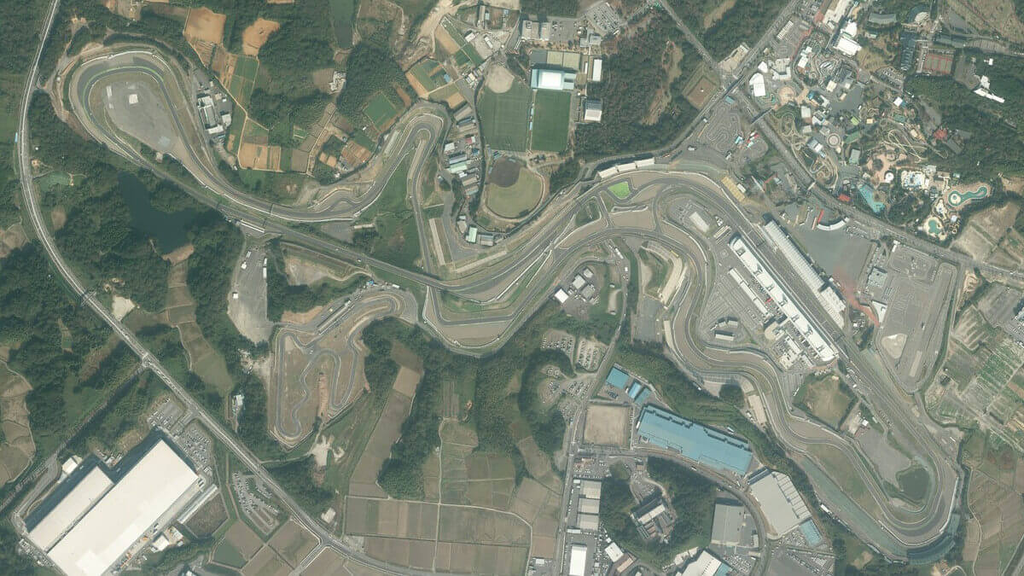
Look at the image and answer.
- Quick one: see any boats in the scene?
No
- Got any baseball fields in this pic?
Yes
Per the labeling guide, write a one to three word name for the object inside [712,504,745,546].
building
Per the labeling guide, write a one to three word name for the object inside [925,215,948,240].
swimming pool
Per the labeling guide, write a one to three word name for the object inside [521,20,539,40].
building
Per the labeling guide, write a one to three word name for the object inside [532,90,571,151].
soccer field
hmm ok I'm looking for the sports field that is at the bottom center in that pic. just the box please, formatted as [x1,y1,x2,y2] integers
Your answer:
[582,405,630,448]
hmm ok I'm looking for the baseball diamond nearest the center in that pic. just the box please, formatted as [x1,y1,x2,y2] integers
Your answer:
[485,155,544,222]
